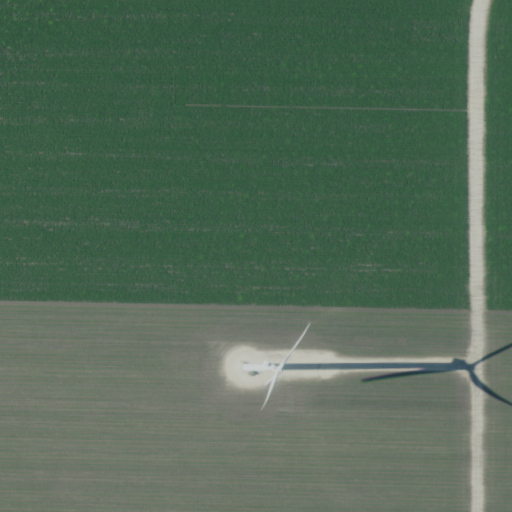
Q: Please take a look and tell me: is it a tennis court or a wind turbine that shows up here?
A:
wind turbine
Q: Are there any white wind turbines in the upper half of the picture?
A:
No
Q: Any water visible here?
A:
No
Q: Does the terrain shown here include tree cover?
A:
No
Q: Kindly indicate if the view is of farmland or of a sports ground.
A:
farmland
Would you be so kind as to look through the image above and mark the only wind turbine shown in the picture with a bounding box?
[241,323,310,412]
